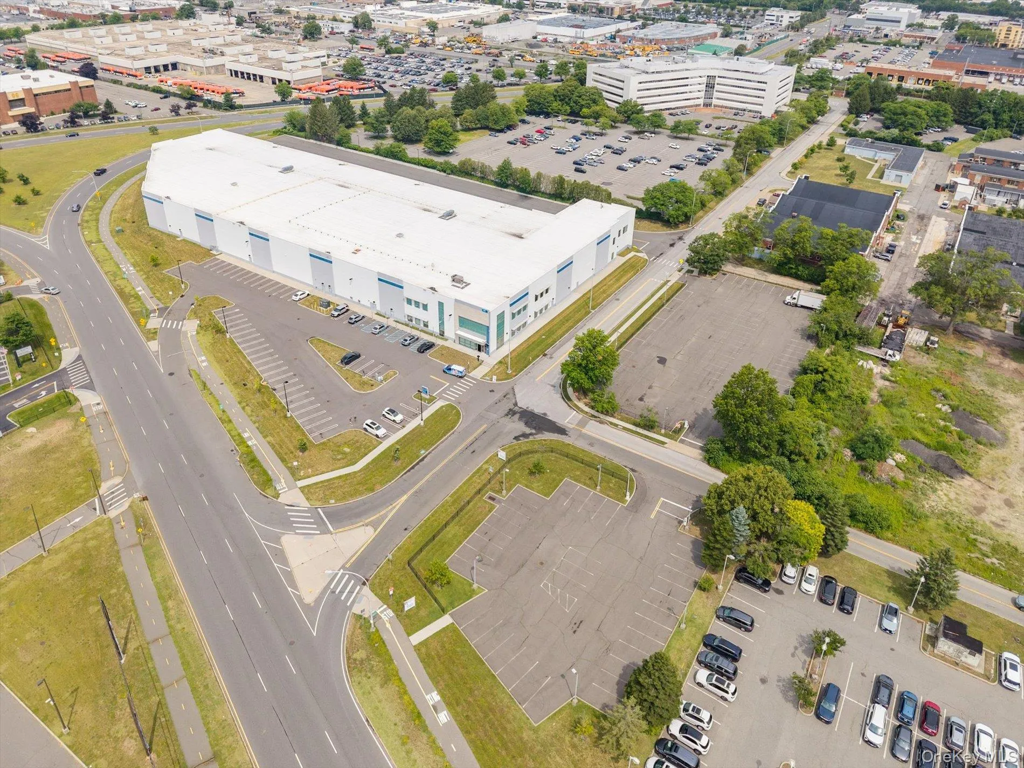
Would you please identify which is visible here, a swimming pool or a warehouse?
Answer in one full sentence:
The one in the frame is a warehouse.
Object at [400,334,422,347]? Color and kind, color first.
gray vehicle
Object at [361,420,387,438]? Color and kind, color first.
white car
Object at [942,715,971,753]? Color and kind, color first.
gray car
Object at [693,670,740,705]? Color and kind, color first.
white car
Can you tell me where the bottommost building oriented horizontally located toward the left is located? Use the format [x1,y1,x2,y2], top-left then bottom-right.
[142,129,636,355]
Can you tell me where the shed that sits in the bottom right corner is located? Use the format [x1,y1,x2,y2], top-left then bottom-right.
[936,614,984,672]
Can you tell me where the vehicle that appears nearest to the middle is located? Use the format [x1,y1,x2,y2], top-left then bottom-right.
[439,363,470,378]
